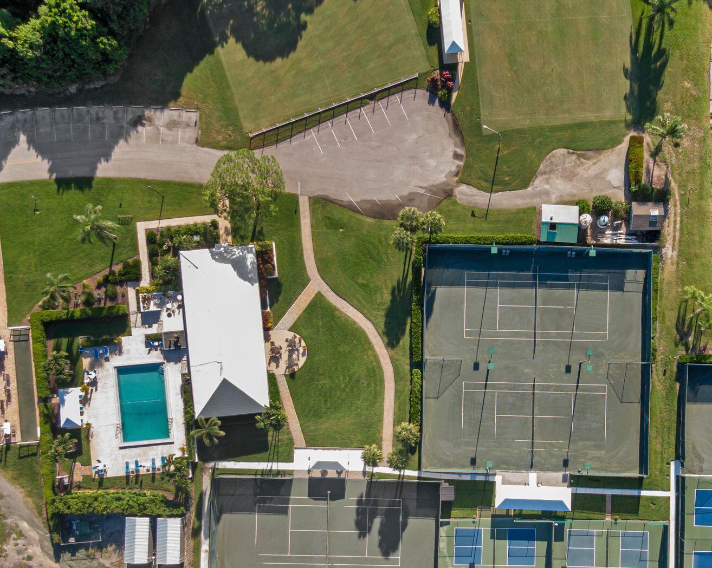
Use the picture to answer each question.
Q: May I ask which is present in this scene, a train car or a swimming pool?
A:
swimming pool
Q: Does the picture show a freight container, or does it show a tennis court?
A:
tennis court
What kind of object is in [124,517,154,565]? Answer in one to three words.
shed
